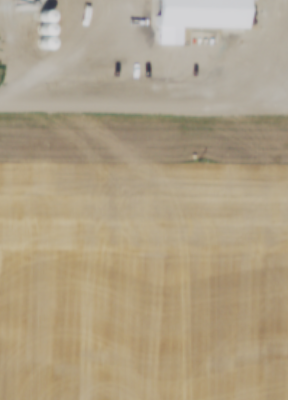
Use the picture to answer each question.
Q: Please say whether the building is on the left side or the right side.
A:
right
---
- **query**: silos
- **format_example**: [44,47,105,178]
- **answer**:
[38,9,60,23]
[38,22,60,36]
[38,36,60,50]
